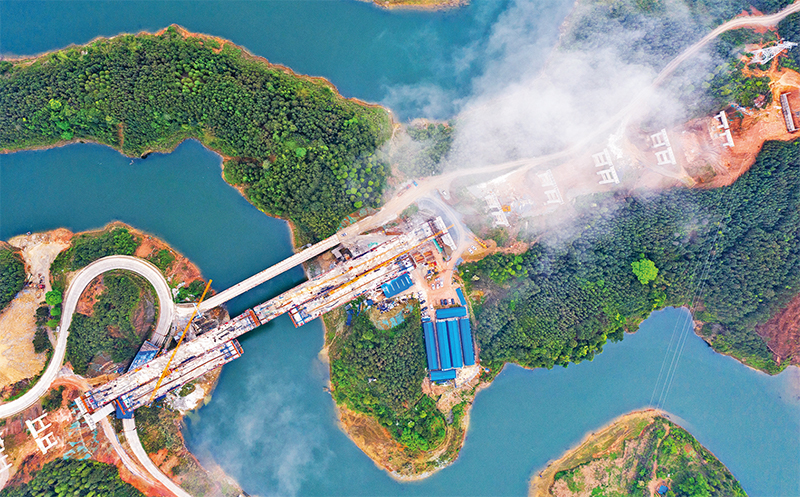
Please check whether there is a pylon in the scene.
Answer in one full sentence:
Yes, you can see a pylon in this photo.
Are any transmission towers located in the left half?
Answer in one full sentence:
No, no transmission tower is visible in the left half.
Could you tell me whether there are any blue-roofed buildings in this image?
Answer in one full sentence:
Yes, there's a blue-roofed building here.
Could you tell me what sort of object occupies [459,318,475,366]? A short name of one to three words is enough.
building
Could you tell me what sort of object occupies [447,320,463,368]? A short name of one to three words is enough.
building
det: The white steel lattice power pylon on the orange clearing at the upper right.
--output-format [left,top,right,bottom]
[746,37,799,69]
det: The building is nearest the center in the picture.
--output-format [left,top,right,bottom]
[381,273,413,298]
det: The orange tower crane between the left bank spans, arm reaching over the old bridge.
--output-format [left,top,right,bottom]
[152,281,213,398]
